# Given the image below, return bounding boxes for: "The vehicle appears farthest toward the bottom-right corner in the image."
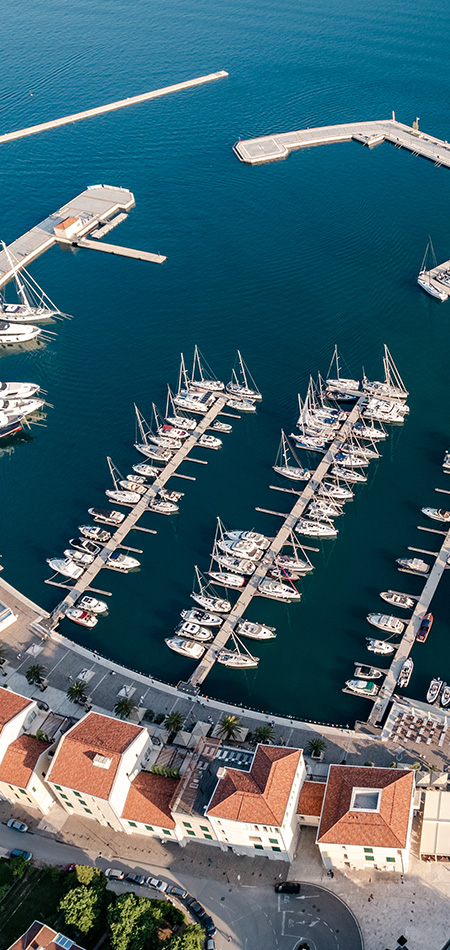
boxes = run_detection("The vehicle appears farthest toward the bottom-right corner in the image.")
[275,881,302,894]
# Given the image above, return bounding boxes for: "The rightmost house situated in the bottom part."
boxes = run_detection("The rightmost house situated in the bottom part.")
[315,764,416,869]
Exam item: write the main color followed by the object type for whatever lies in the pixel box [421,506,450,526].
white boat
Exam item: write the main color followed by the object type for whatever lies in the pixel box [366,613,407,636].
white boat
